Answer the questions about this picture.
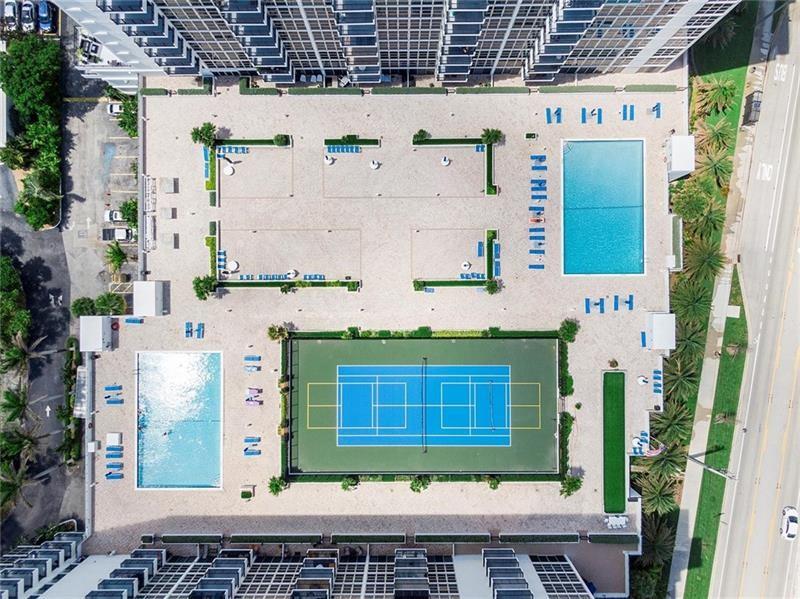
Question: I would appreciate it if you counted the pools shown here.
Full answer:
In total, 2 pools can be seen.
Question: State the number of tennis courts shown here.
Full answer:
I count 1 tennis court.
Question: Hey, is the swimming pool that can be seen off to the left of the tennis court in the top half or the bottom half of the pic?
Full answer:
You can find the swimming pool that can be seen off to the left of the tennis court in the bottom half.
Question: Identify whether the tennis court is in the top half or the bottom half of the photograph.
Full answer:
The tennis court is in the bottom half of the image.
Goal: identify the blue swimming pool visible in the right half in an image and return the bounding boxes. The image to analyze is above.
[563,140,648,274]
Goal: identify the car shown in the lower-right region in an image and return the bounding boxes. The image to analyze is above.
[778,505,800,541]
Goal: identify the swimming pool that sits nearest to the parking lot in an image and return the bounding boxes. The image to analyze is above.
[132,352,221,490]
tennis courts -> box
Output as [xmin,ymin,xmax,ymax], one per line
[289,340,559,473]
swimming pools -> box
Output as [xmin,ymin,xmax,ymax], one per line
[563,140,648,274]
[132,352,221,490]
